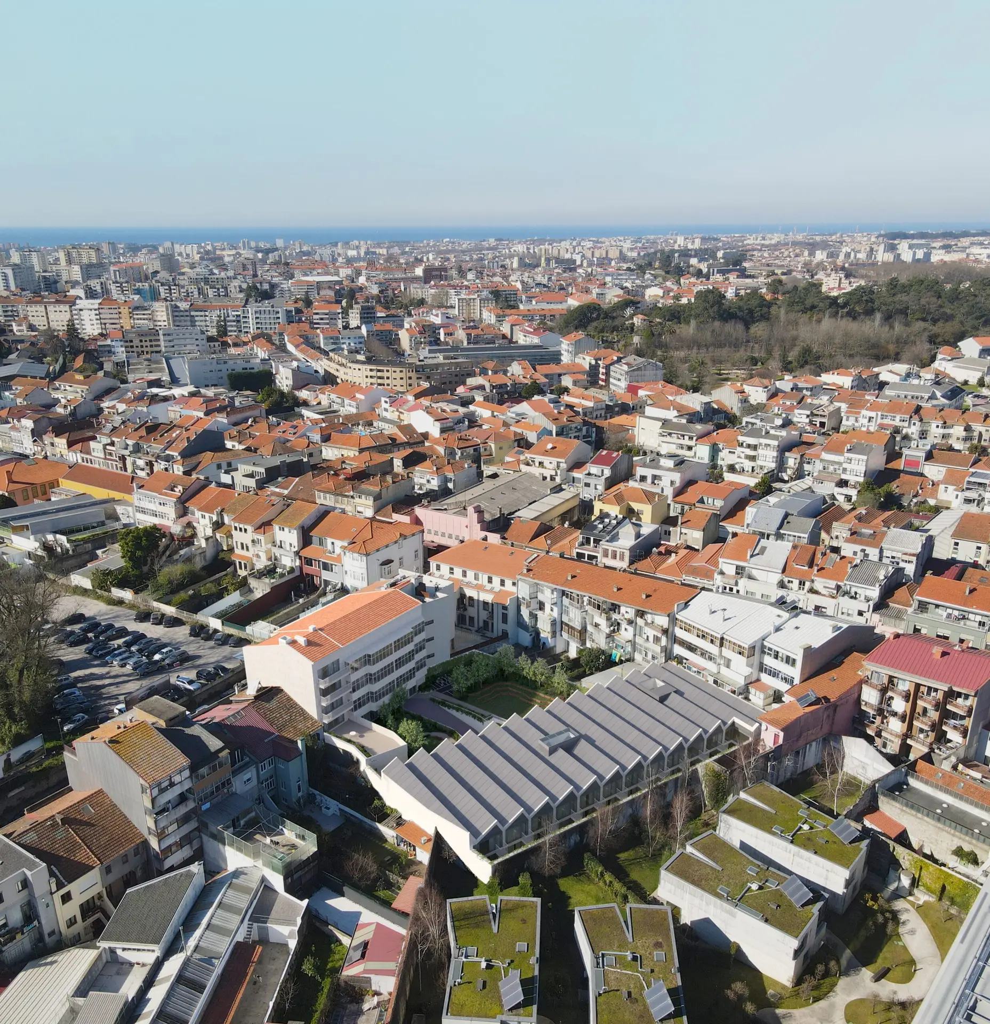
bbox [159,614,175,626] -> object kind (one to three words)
vehicle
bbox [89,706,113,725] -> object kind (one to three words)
car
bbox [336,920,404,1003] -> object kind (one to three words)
shed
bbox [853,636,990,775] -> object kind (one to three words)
building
